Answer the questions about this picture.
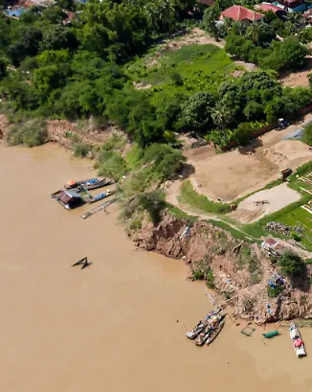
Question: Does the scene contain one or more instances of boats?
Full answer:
Yes, there's a boat down there.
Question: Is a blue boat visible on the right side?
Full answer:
No, looking on the right side, there is no blue boat.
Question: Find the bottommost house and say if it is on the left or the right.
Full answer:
It is on the left.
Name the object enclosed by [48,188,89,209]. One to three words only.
house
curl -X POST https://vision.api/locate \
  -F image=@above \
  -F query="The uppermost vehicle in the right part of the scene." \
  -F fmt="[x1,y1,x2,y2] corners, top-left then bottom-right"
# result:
[277,165,295,179]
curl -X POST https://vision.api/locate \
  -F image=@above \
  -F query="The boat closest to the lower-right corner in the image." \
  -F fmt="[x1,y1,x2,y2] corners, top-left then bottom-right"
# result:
[290,321,303,357]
